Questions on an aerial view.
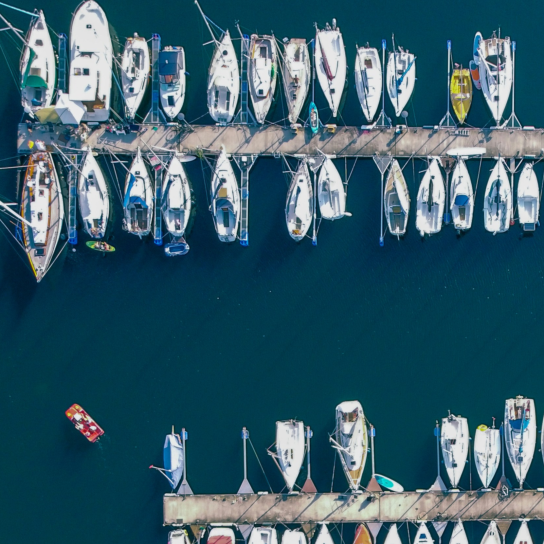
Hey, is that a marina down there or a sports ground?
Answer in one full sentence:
The area seen from above is a marina.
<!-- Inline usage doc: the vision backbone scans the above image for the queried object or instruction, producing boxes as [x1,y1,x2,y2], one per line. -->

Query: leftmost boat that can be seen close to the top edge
[0,7,61,123]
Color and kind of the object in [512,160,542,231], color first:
white boat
